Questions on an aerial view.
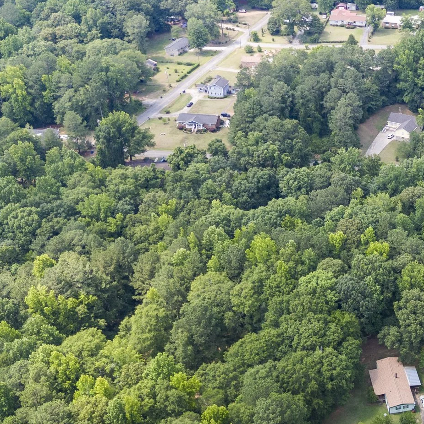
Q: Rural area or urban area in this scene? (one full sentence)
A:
It looks rural.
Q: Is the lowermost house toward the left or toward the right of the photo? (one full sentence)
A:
The lowermost house is on the right side of the image.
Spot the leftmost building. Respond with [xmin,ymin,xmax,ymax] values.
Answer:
[31,128,64,143]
